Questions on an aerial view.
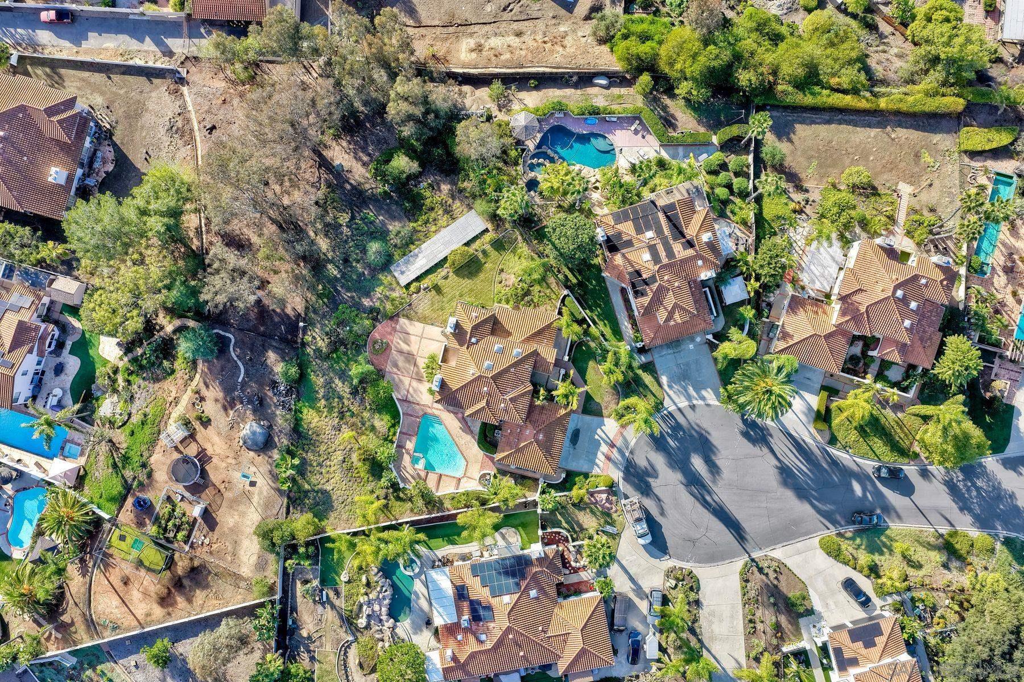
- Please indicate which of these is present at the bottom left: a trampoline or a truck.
trampoline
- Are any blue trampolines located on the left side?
Yes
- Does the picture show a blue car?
Yes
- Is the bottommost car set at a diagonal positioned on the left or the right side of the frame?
right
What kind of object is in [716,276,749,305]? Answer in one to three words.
gazebo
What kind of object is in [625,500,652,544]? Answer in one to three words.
truck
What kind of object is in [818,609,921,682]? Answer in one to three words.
house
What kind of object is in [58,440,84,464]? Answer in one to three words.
swimming pool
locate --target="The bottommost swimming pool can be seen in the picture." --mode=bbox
[377,557,416,625]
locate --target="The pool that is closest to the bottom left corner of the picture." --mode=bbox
[5,485,51,552]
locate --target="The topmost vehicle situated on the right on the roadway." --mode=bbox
[873,465,908,481]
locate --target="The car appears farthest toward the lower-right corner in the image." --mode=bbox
[843,577,873,611]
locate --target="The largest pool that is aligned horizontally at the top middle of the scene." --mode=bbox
[535,123,619,170]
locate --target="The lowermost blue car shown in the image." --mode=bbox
[628,632,644,667]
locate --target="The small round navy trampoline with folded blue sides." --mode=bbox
[132,496,149,512]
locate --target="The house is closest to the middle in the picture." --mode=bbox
[430,301,573,476]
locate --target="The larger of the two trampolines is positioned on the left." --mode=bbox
[162,457,203,489]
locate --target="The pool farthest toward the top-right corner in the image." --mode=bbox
[970,168,1018,279]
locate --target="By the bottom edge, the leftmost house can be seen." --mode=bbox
[439,536,615,682]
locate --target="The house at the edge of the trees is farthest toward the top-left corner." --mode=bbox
[0,72,99,220]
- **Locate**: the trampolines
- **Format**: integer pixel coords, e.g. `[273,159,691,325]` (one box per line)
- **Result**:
[132,496,149,512]
[162,457,203,489]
